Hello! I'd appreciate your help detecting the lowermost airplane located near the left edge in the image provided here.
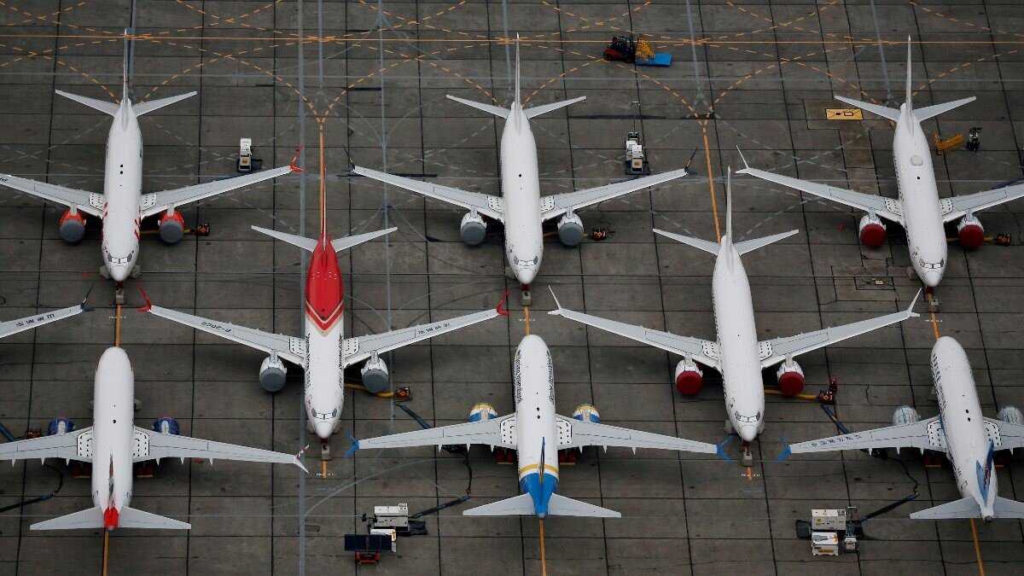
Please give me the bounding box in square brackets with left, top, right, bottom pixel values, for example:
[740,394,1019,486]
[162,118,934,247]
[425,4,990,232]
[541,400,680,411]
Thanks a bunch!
[0,342,308,534]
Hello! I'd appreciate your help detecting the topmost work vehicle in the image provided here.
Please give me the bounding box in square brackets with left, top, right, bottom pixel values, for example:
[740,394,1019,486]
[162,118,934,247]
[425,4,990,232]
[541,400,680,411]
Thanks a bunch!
[601,30,645,64]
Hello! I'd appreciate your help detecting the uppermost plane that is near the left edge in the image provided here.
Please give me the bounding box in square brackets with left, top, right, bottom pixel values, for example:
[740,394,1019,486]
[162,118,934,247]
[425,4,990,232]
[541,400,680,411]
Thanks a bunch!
[0,28,303,292]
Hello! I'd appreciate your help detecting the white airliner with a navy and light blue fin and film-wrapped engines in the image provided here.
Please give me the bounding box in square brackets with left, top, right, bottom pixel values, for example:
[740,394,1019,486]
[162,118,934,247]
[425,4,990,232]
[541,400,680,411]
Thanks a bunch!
[778,334,1024,524]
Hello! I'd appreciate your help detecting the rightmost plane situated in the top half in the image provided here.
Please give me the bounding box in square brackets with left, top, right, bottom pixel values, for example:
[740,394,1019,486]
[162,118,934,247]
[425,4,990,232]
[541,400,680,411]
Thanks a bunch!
[737,32,1024,298]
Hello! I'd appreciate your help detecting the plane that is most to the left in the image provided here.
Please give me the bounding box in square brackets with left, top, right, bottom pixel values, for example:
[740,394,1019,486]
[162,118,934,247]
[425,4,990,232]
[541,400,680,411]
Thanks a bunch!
[0,282,97,342]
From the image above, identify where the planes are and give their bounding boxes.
[137,160,510,445]
[0,282,97,342]
[0,342,308,534]
[549,162,921,448]
[341,31,698,296]
[344,331,734,521]
[737,32,1024,298]
[778,334,1024,524]
[0,28,303,292]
